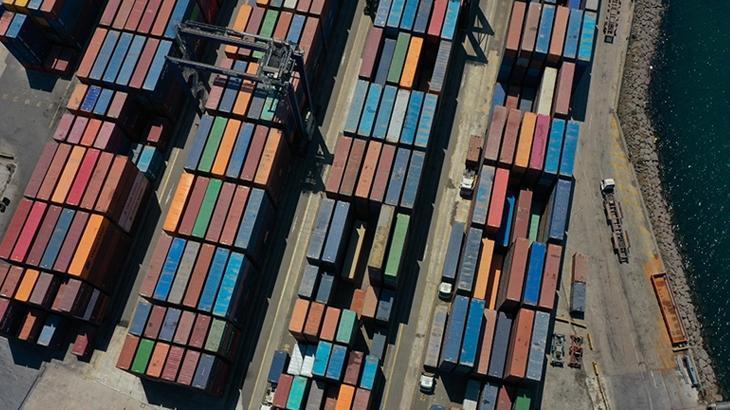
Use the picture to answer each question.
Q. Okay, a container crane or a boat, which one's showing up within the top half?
container crane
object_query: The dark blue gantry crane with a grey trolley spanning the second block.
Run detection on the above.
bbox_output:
[165,21,322,130]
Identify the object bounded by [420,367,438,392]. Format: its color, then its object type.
white vehicle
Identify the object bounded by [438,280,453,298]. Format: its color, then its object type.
white vehicle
